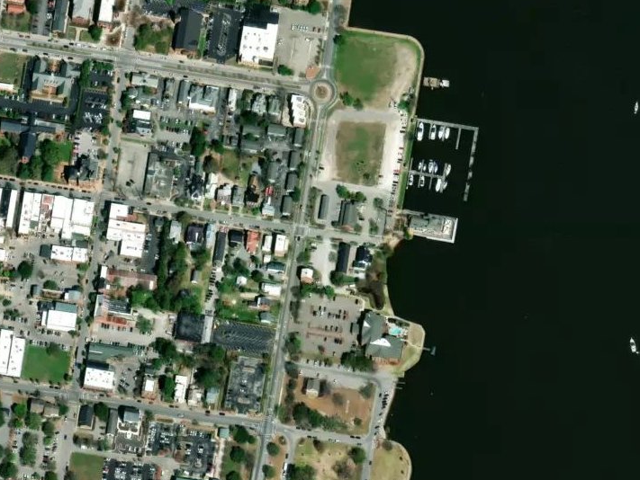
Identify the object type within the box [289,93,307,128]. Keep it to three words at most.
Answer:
building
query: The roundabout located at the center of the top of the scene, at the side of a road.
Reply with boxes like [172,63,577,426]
[307,77,335,104]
